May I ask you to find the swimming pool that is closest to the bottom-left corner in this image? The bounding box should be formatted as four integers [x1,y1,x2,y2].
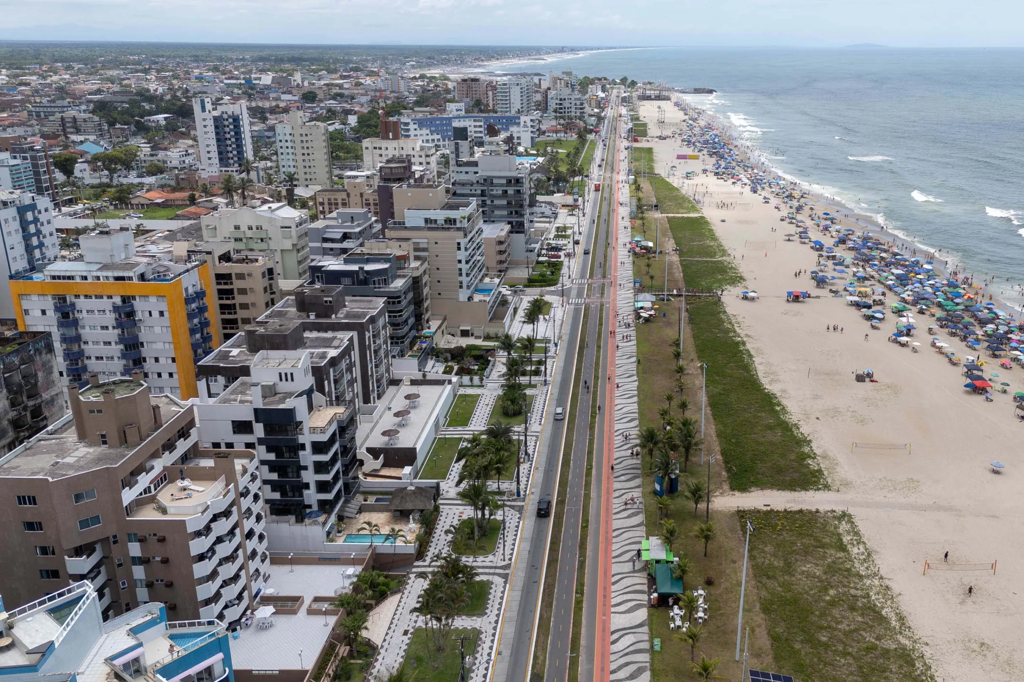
[169,632,218,651]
